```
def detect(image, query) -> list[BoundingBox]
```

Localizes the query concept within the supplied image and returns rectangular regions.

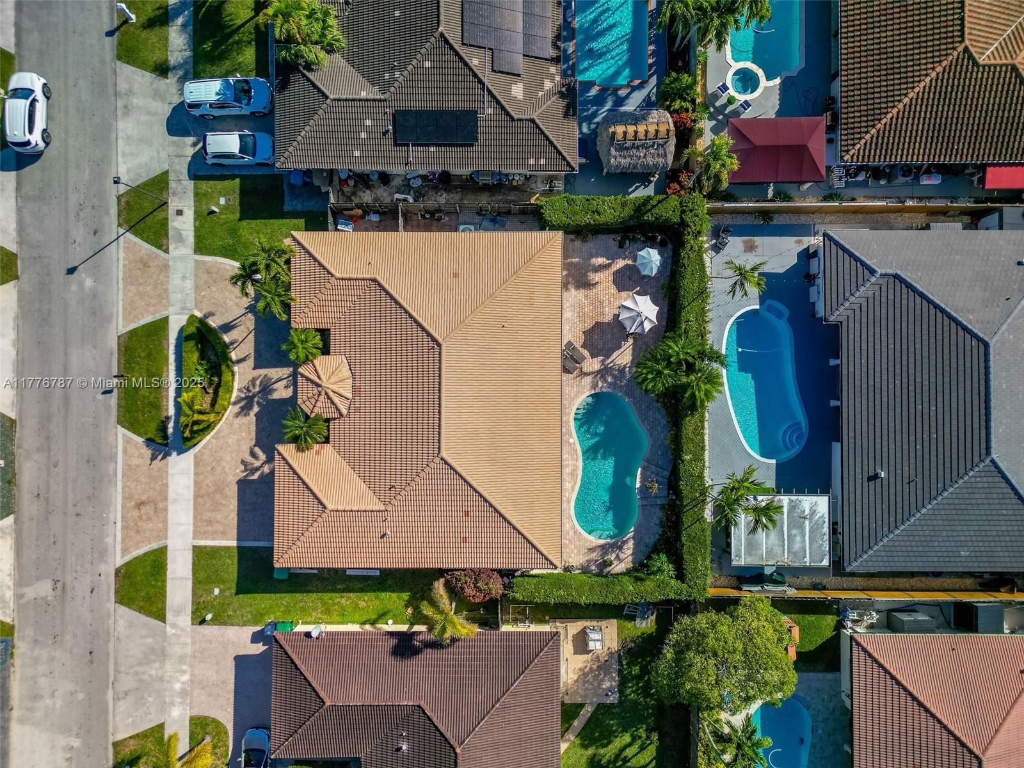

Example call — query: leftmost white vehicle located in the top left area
[4,72,52,150]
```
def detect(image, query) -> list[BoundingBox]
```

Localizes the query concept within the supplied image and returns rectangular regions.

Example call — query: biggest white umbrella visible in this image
[615,292,659,346]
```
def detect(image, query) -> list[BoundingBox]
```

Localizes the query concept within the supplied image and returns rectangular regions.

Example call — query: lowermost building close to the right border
[834,623,1024,768]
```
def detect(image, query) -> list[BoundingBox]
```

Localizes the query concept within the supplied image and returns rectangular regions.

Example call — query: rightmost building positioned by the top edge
[825,0,1024,171]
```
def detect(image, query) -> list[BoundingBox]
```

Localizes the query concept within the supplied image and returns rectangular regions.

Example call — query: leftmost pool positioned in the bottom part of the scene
[571,390,650,542]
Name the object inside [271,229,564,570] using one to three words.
house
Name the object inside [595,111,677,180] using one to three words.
shed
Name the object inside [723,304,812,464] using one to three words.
swimming pool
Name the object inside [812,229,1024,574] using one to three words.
house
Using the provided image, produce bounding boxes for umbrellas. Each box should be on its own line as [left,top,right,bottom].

[615,292,659,346]
[634,250,660,276]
